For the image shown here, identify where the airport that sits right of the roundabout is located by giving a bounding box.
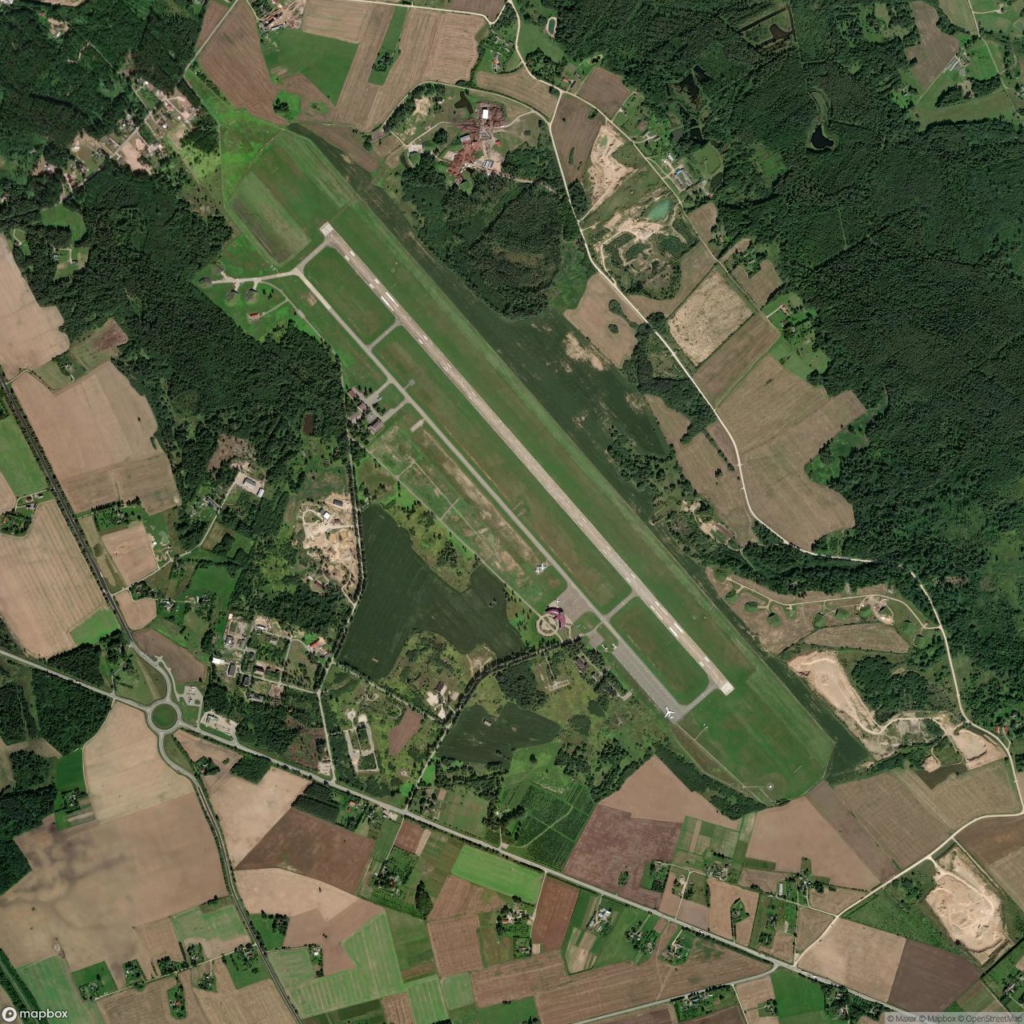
[212,222,773,789]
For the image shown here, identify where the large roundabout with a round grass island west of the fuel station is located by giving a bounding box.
[141,694,187,741]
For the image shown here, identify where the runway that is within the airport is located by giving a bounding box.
[320,222,734,696]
